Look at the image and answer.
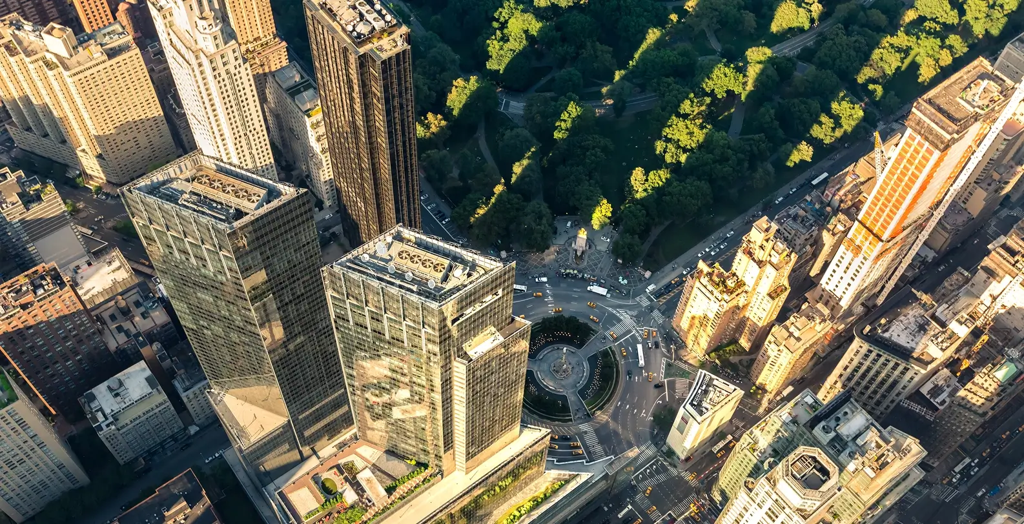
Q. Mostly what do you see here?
buildings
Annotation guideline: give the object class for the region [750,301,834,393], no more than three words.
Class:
house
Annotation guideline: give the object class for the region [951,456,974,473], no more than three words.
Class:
vehicle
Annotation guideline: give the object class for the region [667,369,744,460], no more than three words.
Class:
building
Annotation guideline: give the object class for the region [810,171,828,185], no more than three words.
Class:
vehicle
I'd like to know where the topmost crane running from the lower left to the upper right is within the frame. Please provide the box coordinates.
[875,89,1024,308]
